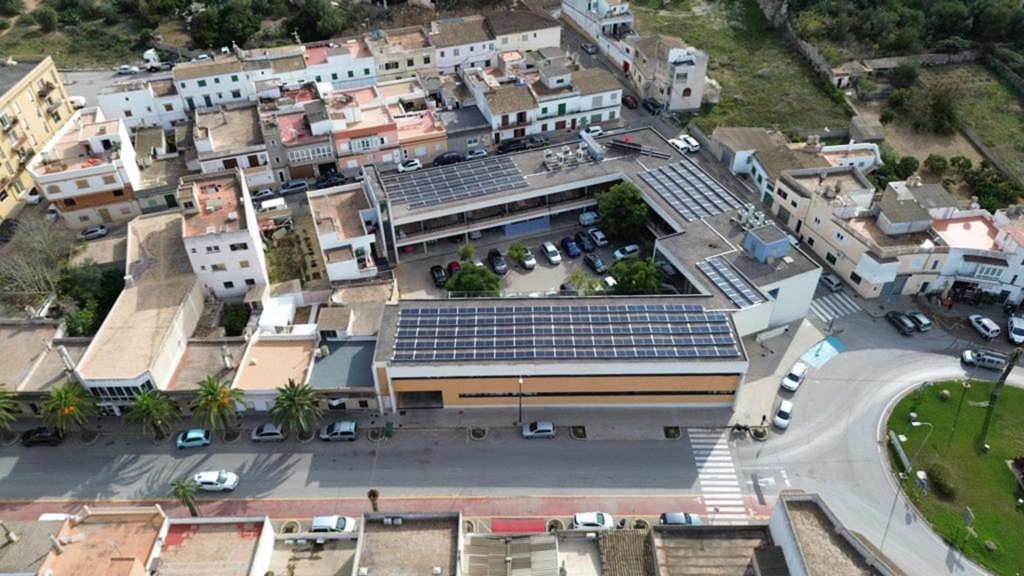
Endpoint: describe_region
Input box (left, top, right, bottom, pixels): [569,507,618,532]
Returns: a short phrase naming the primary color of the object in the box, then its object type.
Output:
white car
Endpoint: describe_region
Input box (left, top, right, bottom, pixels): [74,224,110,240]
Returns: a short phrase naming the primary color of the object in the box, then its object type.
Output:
gray car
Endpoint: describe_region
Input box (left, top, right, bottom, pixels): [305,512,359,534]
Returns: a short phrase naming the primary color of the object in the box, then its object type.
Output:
white car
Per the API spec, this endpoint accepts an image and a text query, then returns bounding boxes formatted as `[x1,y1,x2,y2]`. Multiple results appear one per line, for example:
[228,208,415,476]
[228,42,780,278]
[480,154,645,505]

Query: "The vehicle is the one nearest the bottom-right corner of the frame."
[961,350,1010,370]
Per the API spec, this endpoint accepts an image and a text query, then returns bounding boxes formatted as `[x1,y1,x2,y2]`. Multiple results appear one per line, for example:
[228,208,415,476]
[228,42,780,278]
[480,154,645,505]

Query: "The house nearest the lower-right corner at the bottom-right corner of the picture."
[769,491,913,576]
